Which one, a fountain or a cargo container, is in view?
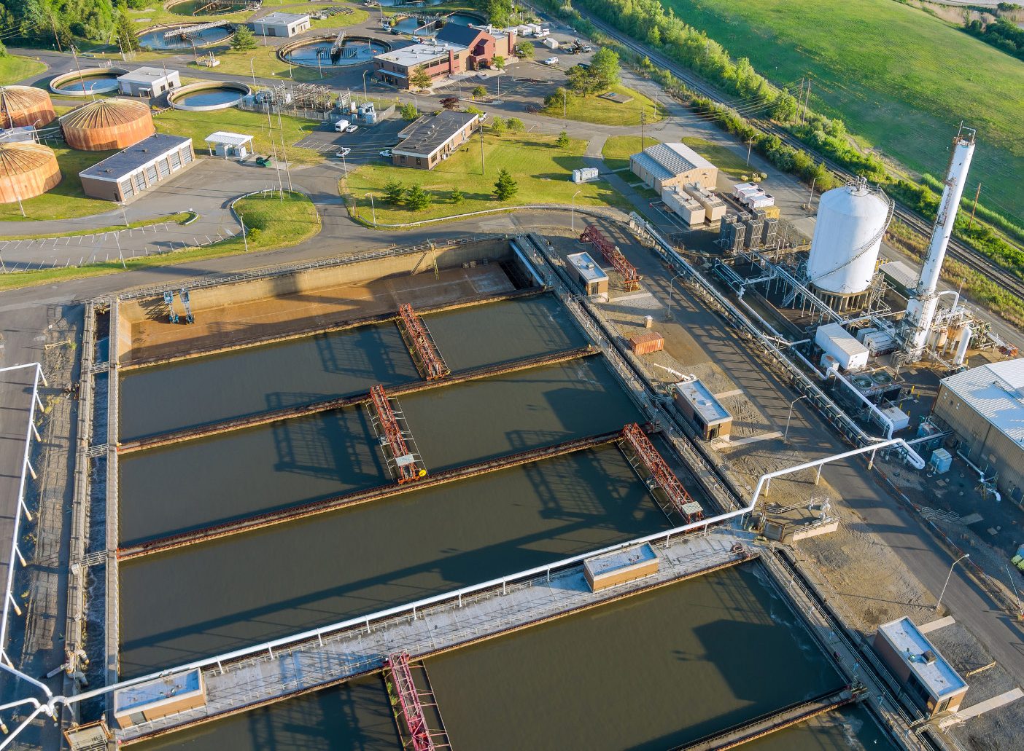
cargo container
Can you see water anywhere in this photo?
Yes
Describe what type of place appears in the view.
industrial area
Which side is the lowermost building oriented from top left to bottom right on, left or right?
right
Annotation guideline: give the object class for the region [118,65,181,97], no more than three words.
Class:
building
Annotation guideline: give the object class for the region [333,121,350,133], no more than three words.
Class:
vehicle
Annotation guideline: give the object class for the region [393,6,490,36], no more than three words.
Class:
storage tank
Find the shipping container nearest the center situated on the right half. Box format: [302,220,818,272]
[629,327,671,355]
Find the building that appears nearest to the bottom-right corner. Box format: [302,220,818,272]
[874,615,967,717]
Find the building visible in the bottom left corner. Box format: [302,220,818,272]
[114,662,209,728]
